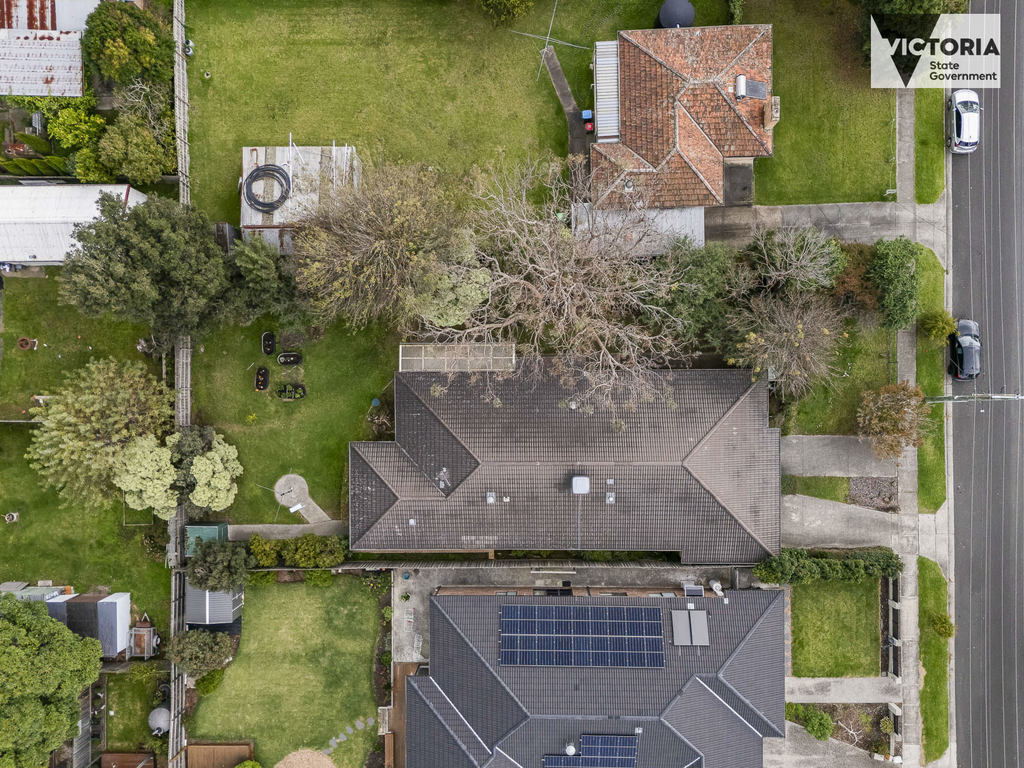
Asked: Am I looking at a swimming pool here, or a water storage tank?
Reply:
water storage tank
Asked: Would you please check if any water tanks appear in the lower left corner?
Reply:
Yes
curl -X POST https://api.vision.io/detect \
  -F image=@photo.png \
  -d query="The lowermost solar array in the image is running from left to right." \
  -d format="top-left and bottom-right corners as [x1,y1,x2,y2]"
[542,736,639,768]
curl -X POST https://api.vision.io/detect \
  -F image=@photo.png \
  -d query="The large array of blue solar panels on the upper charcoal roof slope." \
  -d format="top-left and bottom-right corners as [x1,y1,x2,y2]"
[498,605,666,668]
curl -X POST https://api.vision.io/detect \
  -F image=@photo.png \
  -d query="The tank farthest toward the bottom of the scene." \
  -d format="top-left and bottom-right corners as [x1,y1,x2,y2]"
[141,707,173,741]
